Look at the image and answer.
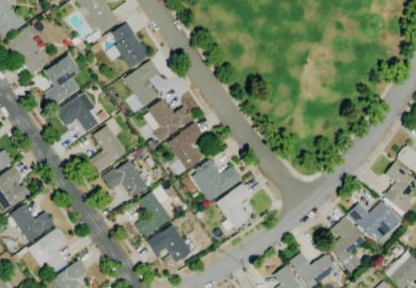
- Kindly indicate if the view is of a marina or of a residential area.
residential area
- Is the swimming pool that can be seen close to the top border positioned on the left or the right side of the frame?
left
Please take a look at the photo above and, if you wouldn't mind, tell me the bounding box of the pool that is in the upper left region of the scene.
[70,13,90,37]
